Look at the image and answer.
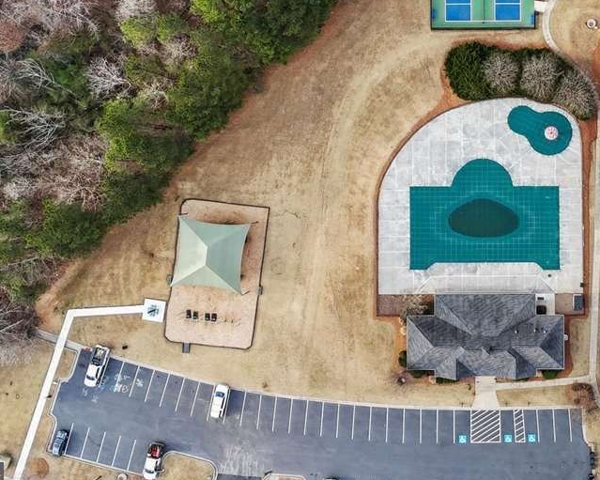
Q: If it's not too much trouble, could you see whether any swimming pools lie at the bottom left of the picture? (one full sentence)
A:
No, I see no swimming pool at the bottom left of the picture.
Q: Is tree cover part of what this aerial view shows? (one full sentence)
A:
Yes, the picture does contain tree cover.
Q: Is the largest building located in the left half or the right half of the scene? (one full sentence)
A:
The largest building sits on the right side.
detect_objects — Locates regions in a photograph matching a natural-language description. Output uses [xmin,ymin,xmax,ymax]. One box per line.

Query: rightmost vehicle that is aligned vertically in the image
[211,385,230,418]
